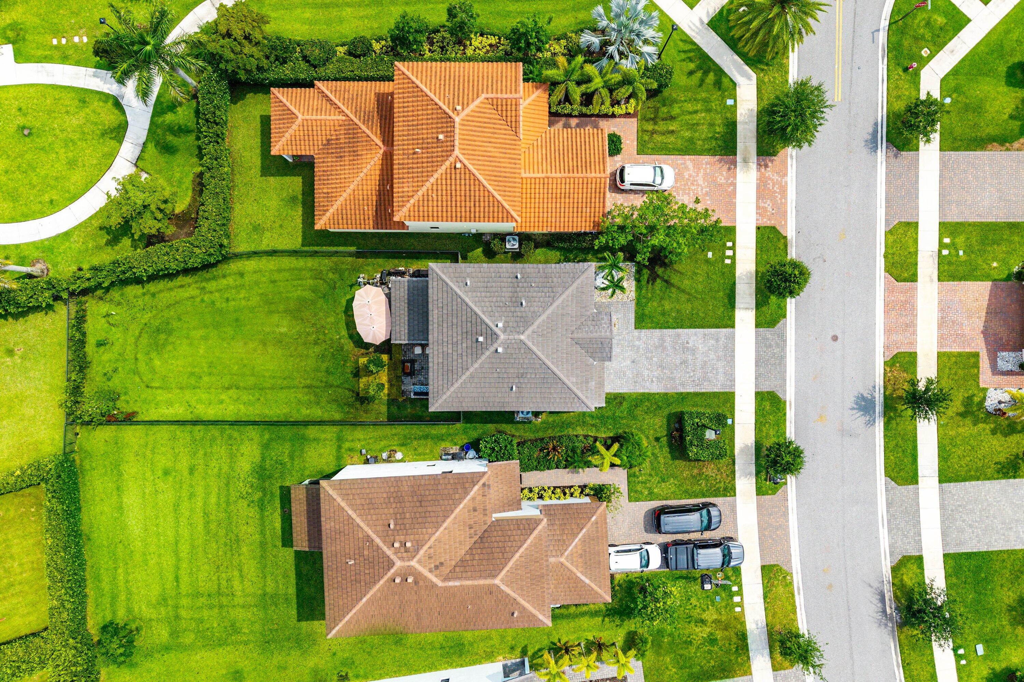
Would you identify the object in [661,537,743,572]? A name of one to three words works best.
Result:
truck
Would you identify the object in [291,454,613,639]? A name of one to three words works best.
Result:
house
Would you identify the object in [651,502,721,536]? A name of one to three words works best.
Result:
car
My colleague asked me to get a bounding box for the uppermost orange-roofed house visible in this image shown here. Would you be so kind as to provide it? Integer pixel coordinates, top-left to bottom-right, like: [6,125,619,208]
[269,59,613,233]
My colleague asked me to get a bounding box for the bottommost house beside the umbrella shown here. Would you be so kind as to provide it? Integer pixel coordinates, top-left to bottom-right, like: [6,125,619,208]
[391,262,615,412]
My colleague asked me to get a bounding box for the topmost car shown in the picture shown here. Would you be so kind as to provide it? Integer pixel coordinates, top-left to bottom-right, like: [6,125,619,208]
[615,159,675,191]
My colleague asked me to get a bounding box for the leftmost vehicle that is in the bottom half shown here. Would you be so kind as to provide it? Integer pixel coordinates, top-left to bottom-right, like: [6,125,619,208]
[609,540,661,574]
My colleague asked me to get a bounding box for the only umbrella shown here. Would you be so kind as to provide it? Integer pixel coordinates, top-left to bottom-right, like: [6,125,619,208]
[353,285,391,344]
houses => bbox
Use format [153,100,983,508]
[269,59,613,233]
[291,454,613,639]
[377,663,504,682]
[391,262,615,412]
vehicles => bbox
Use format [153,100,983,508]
[661,537,743,572]
[609,540,661,574]
[615,159,675,191]
[651,502,721,536]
